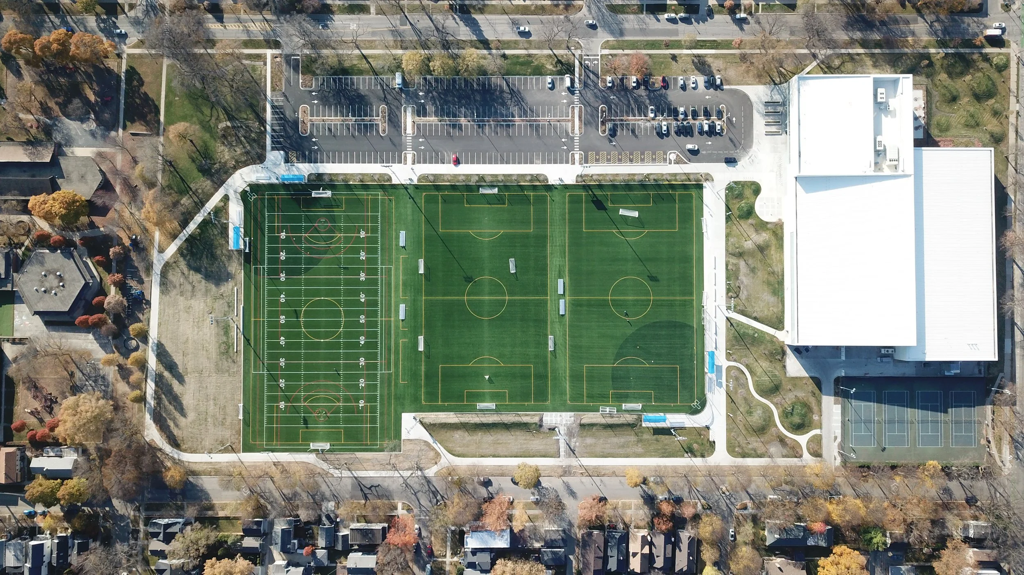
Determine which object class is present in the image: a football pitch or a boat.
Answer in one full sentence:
It is a football pitch that can be seen here.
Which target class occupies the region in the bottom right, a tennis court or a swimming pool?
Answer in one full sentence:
There is a tennis court in the bottom right.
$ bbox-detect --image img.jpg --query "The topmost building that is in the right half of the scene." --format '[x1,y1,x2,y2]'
[784,74,999,374]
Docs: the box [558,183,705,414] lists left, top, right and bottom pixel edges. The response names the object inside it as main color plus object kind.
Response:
green soccer field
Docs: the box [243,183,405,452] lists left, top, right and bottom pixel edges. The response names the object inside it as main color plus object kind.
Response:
green sports field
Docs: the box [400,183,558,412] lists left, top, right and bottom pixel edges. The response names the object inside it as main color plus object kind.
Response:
green soccer field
